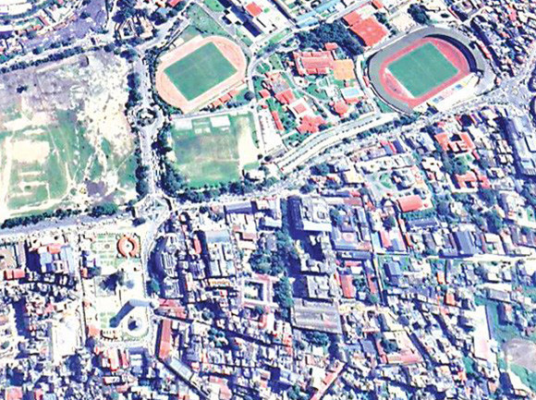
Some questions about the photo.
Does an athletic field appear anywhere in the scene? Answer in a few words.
Yes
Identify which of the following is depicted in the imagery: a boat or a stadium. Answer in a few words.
stadium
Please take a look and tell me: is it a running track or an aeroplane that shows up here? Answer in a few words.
running track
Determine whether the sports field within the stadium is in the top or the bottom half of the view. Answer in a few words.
top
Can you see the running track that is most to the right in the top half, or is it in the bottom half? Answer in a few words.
top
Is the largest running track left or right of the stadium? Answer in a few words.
left of it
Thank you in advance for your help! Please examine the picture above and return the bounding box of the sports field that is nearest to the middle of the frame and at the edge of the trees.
[171,112,260,188]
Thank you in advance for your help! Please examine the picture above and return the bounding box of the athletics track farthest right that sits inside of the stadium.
[376,35,469,104]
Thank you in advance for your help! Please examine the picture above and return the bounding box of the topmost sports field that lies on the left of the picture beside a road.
[165,40,237,100]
